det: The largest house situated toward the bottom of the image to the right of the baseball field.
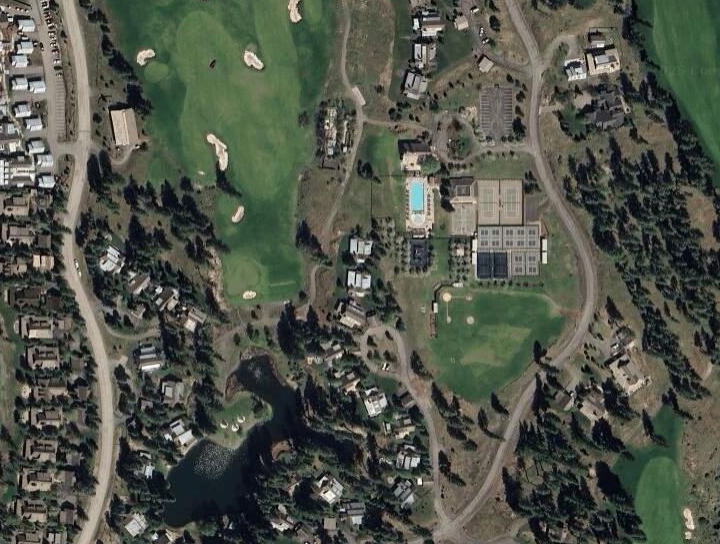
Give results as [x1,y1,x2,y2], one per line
[603,354,650,393]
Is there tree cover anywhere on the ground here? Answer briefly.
Yes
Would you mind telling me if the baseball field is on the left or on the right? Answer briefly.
right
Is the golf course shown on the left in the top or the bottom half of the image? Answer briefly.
top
